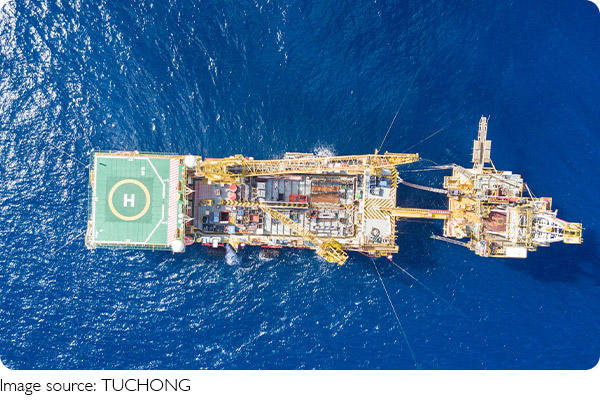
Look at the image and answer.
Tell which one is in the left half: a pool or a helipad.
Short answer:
helipad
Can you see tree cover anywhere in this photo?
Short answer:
No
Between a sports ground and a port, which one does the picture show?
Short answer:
port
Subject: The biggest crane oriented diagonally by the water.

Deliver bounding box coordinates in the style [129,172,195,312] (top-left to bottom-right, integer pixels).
[254,199,350,266]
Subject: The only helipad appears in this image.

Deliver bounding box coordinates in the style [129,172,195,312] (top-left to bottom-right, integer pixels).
[84,148,188,252]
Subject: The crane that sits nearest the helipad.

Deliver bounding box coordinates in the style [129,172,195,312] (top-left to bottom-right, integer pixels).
[203,153,422,184]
